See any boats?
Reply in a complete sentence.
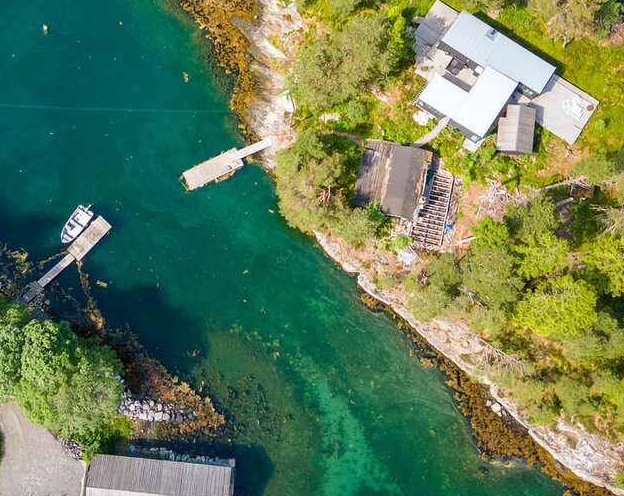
Yes, the frame does contain a boat.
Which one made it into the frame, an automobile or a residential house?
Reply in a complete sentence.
Of the two, only a residential house appears.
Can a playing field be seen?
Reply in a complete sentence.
No, I find no playing field anywhere in the image.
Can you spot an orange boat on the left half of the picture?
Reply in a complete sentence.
No, no orange boat can be made out on the left half of the picture.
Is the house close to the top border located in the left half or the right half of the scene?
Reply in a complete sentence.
The house close to the top border appears in the right half of the scene.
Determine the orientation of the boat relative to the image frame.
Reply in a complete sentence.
The boat has been laid out on a diagonal relative to the frame.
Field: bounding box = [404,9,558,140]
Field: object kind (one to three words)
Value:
house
